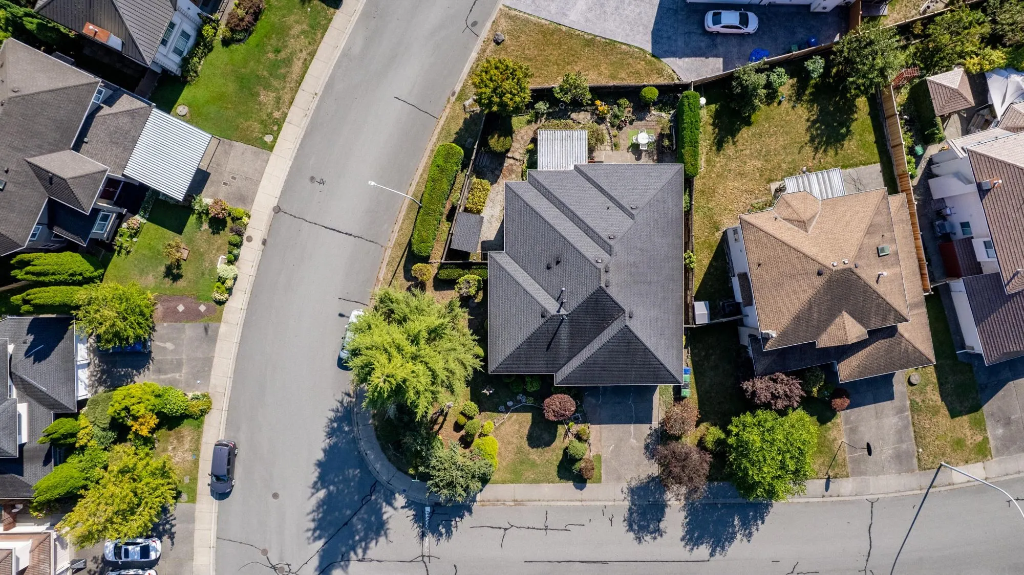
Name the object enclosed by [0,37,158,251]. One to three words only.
house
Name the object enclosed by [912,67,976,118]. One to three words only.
gazebo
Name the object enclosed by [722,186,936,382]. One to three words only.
house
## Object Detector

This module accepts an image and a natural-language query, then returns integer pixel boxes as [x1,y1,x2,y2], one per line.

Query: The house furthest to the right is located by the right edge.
[916,98,1024,366]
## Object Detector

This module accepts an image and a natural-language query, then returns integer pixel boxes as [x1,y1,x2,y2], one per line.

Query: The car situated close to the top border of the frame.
[703,8,758,36]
